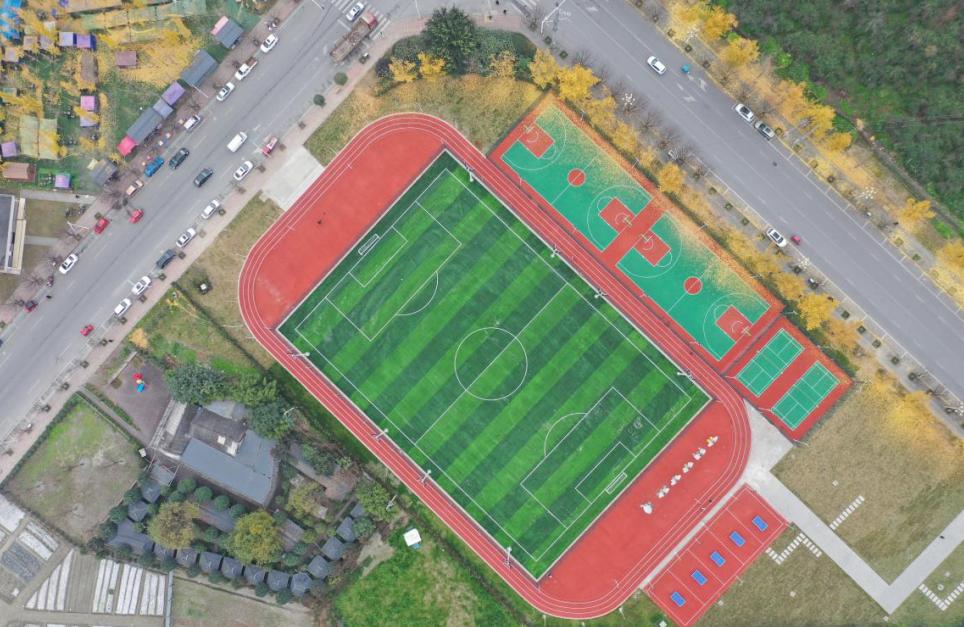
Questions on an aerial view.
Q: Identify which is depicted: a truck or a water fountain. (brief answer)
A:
truck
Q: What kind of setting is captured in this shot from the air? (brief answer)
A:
sports ground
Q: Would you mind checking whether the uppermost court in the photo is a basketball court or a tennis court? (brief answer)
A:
basketball court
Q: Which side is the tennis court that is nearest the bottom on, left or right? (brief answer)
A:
right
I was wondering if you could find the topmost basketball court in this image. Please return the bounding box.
[502,105,652,252]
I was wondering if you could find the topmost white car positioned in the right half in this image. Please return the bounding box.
[646,56,667,76]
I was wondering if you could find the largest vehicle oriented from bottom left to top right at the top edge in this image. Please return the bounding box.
[327,10,378,65]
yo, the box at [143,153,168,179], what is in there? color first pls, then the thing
blue truck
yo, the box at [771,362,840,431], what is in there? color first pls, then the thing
green sports court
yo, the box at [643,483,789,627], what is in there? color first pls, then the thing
red tennis court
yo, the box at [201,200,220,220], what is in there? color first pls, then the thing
white car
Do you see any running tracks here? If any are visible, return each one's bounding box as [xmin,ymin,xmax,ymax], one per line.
[237,113,750,618]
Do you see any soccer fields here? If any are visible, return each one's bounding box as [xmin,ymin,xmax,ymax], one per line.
[274,147,714,583]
